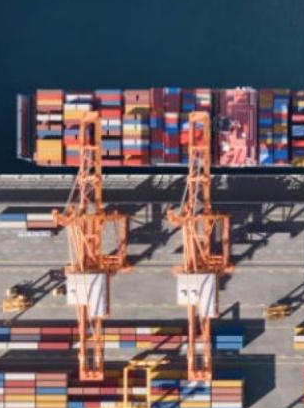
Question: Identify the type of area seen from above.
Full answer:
The area seen from above is a port.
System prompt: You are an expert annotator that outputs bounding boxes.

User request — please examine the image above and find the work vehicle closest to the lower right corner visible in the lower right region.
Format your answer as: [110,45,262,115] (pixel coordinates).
[265,302,293,318]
